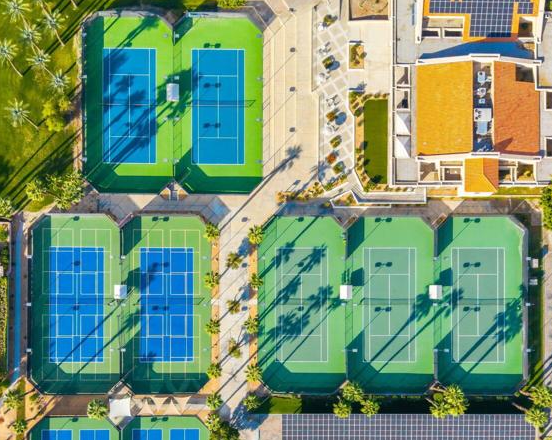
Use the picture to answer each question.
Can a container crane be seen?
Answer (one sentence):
No, no container crane is visible in the scene.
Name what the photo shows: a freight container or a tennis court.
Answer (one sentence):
This aerial view contains a tennis court.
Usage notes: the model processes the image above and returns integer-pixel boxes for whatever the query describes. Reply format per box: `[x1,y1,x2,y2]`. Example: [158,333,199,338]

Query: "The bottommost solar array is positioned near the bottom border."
[282,414,536,440]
